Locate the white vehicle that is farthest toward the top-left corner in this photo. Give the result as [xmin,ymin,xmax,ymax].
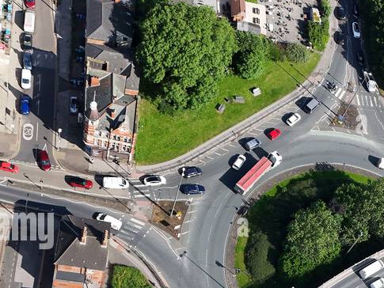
[23,8,36,36]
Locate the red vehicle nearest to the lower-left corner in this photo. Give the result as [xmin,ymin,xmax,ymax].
[0,164,21,177]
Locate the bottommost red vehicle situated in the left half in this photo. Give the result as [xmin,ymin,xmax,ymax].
[66,177,93,192]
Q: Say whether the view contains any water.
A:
No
